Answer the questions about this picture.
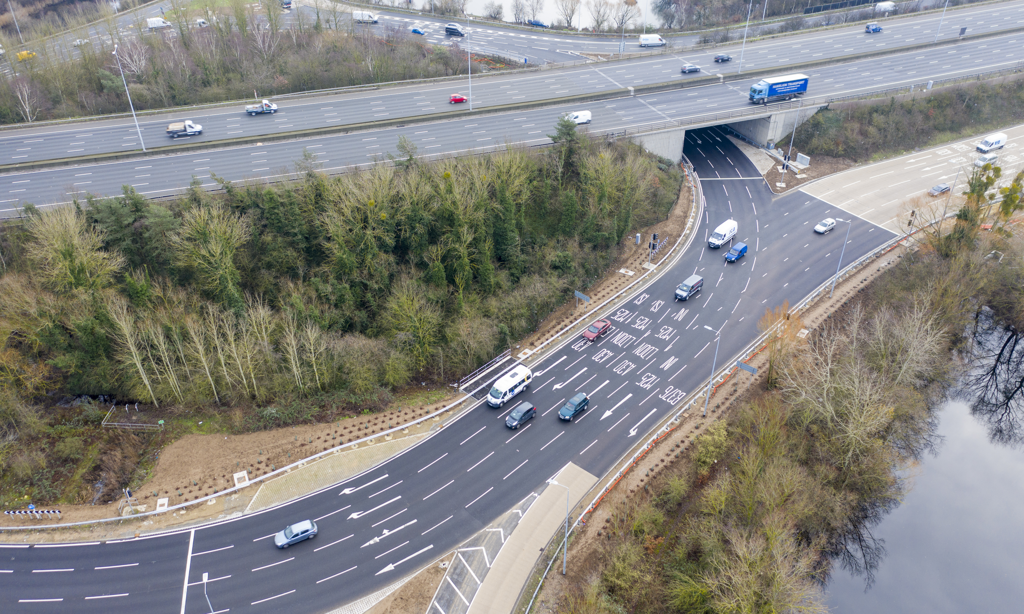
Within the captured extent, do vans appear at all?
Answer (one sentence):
Yes, looking at the shot, I can spot a van.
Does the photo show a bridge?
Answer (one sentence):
Yes, a bridge is visible in the scene.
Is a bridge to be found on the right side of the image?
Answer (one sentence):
Yes, a bridge appears on the right side of the image.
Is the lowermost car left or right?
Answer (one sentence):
The lowermost car sits on the left side.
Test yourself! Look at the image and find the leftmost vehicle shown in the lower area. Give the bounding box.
[272,517,320,549]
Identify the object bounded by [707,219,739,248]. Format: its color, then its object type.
white van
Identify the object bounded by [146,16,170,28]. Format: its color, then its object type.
white vehicle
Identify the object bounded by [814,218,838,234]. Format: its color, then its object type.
white car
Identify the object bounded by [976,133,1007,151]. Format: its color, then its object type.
white vehicle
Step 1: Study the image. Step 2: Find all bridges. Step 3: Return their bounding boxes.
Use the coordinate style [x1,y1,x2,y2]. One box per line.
[542,47,836,166]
